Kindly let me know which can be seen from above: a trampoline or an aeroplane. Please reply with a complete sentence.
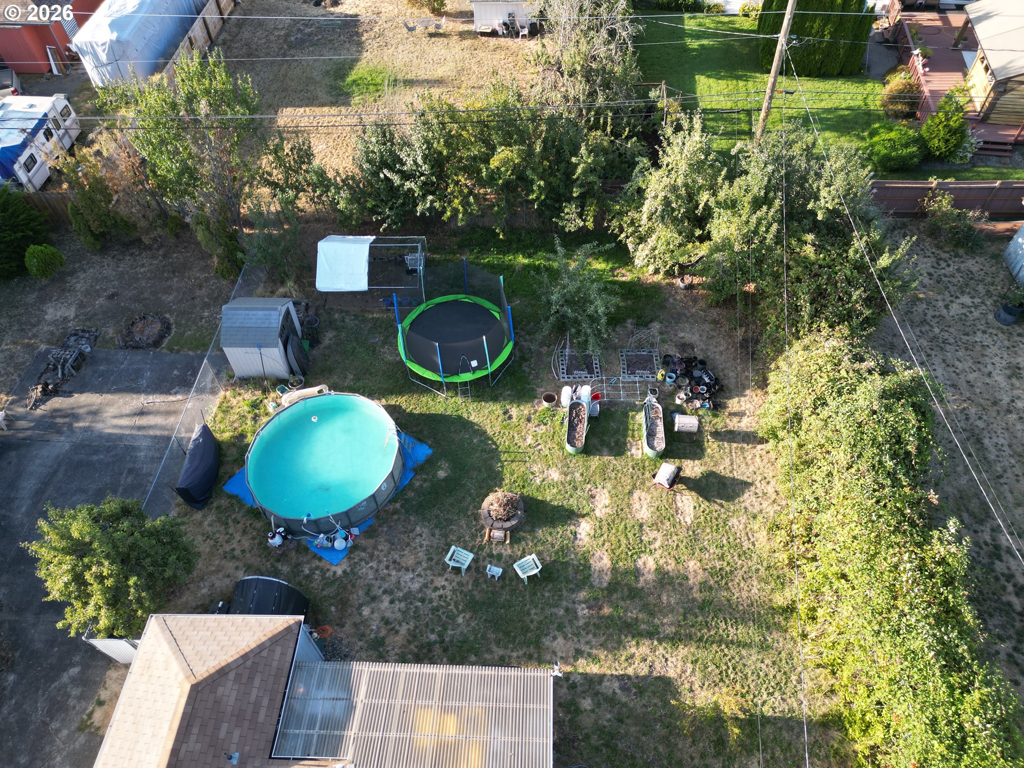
Looking from above, you can make out a trampoline.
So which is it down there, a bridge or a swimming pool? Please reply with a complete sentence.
There is a swimming pool in the scene.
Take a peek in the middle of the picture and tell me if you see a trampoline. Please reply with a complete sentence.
Yes, in the middle of the picture there is a trampoline.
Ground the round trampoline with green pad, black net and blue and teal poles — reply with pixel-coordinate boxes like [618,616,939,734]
[392,257,516,395]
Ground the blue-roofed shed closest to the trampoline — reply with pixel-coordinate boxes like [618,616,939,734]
[220,296,300,377]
